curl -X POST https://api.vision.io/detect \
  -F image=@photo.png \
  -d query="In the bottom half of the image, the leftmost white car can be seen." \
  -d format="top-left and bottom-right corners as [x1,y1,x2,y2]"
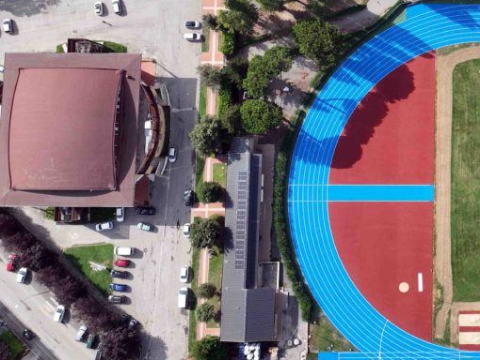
[16,265,30,285]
